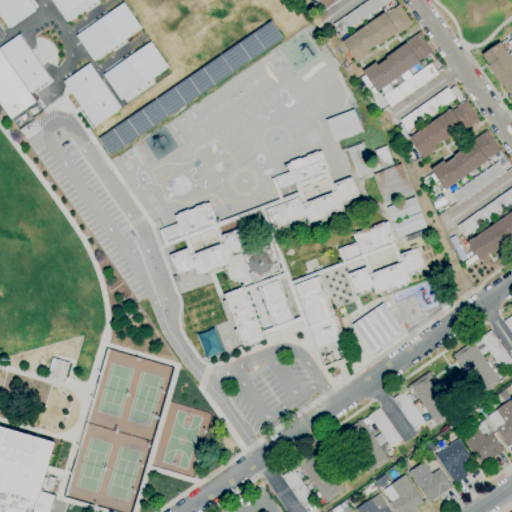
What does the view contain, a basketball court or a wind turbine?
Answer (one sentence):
The one in the frame is a basketball court.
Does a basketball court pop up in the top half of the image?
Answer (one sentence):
No, there's no basketball court to be seen in the top half of the image.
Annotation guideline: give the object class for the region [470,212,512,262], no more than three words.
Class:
building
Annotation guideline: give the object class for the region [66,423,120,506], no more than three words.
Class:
tennis court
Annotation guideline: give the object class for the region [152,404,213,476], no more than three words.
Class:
basketball court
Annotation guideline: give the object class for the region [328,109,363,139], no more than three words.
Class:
shed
